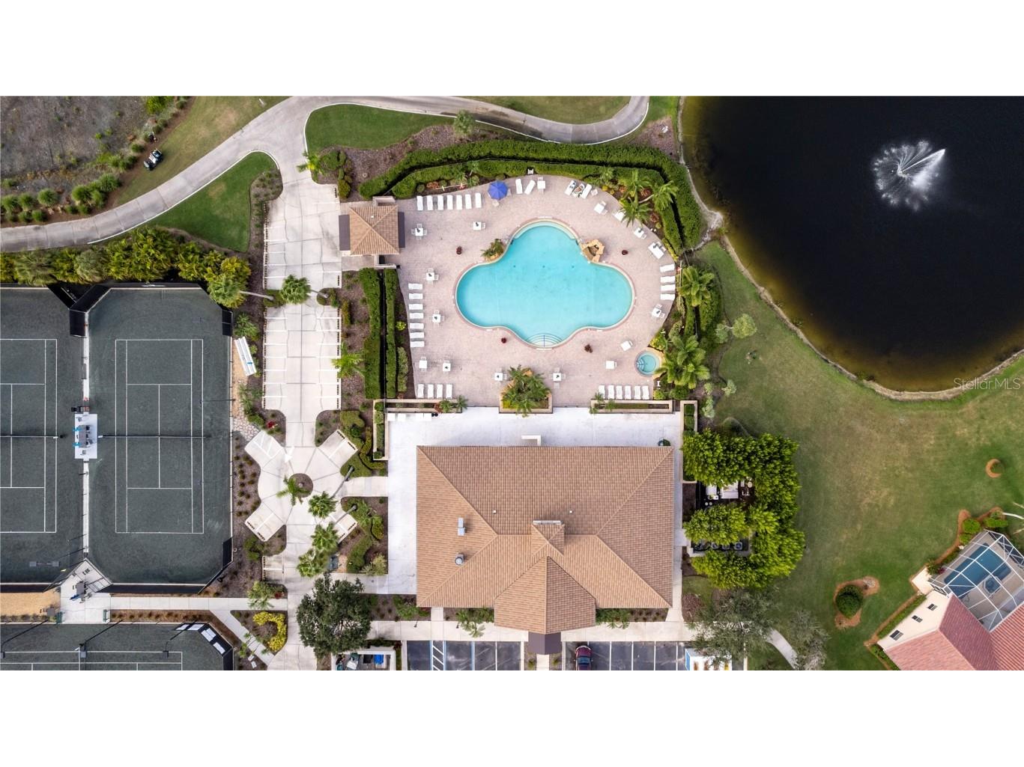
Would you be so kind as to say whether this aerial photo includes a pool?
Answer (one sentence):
Yes, the frame does contain a pool.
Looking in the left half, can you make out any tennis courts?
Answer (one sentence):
Yes, you'll find a tennis court in the left half.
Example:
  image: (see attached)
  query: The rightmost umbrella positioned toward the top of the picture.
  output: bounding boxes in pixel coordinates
[488,180,509,201]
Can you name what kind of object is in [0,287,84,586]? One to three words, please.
tennis court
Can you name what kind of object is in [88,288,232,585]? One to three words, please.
tennis court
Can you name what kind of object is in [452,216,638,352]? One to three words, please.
swimming pool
